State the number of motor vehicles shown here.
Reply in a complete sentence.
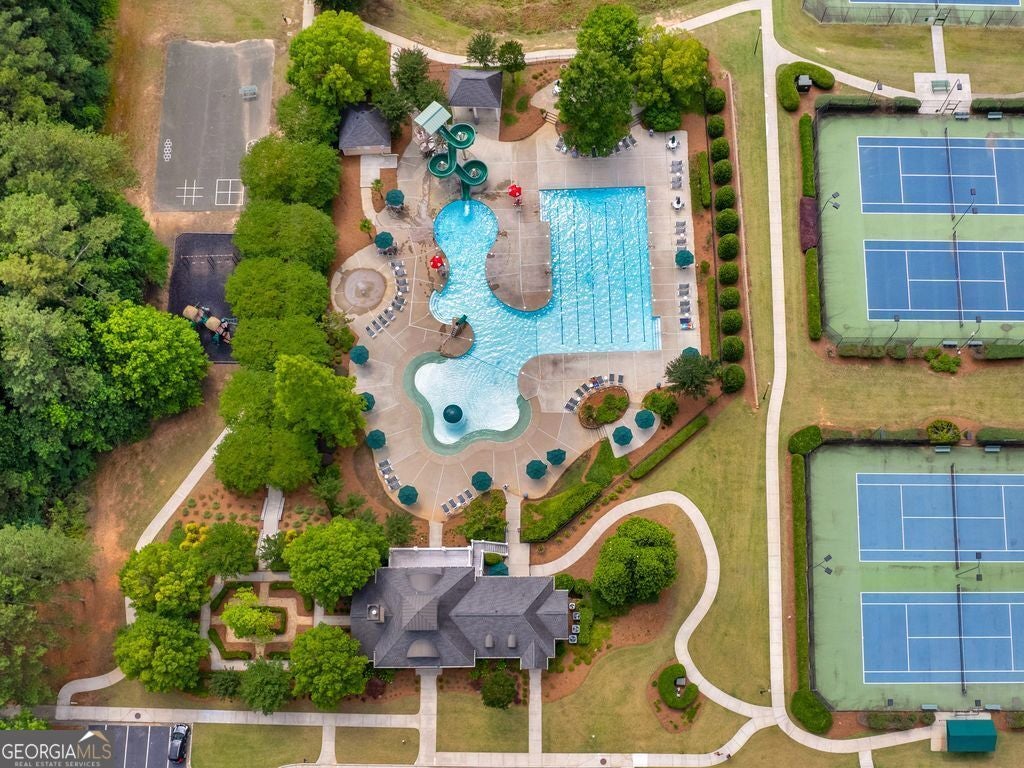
In total, there is 1 motor vehicle in the scene.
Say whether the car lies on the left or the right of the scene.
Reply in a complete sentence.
You can find the car on the left side of the picture.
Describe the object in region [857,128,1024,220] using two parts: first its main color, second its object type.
blue tennis court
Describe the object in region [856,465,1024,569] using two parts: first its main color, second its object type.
blue tennis court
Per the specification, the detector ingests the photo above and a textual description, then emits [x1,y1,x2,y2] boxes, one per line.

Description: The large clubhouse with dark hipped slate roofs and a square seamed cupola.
[352,539,568,670]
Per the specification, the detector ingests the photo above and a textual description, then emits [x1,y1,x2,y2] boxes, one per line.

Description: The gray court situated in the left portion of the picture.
[153,39,274,212]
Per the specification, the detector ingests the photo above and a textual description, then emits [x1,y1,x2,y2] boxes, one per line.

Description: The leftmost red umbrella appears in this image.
[430,256,444,271]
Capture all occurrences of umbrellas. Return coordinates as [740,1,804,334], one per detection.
[634,409,655,429]
[508,185,522,199]
[375,231,394,250]
[546,447,566,466]
[486,557,508,576]
[356,391,377,411]
[471,470,493,492]
[349,345,370,365]
[526,459,547,480]
[397,484,418,505]
[430,256,444,271]
[611,425,632,446]
[674,249,694,269]
[386,187,406,206]
[365,428,386,449]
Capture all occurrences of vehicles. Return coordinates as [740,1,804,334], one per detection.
[166,722,188,763]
